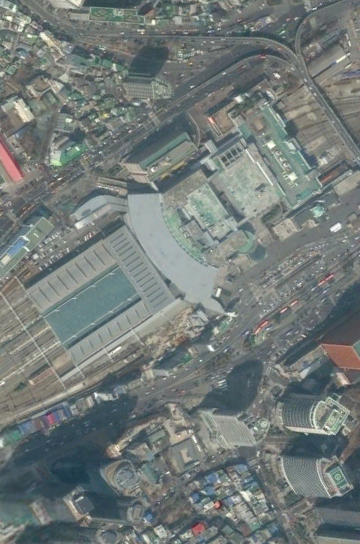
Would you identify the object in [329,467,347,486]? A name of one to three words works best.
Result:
helipad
